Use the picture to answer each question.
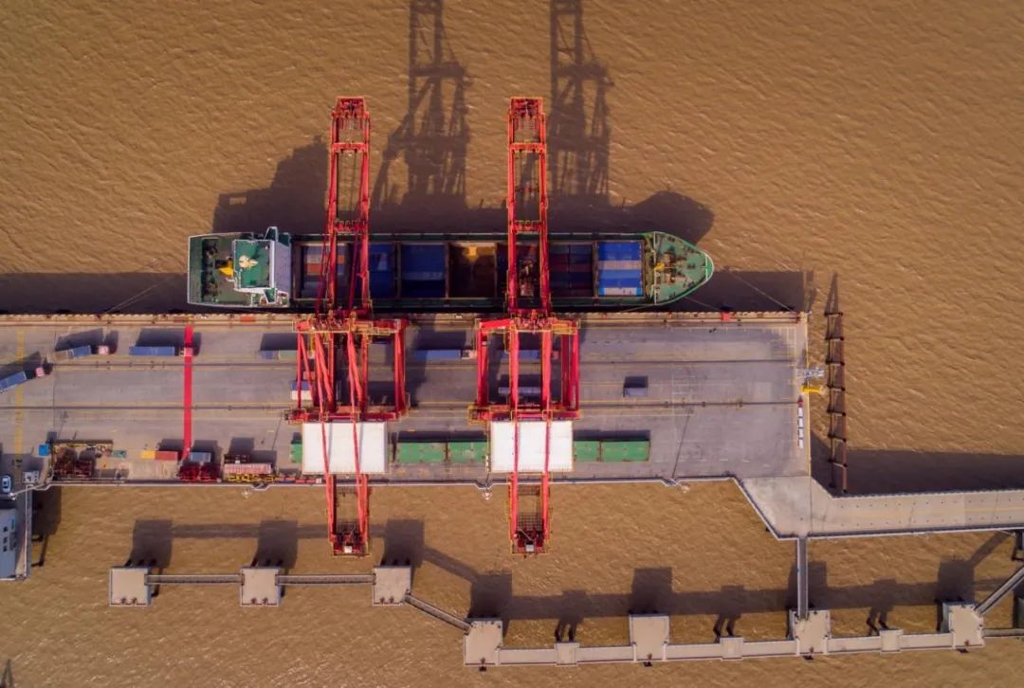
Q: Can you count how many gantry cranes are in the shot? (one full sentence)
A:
Altogether the scene contains 2 gantry cranes.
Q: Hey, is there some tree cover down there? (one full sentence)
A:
No, the scene doesn't show any tree cover.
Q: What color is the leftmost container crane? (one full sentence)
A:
The color of the leftmost container crane is red.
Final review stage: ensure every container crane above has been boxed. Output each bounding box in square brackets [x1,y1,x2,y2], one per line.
[469,95,588,554]
[287,97,424,555]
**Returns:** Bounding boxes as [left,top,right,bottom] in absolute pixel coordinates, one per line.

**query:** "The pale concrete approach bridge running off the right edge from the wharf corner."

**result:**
[810,477,1024,538]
